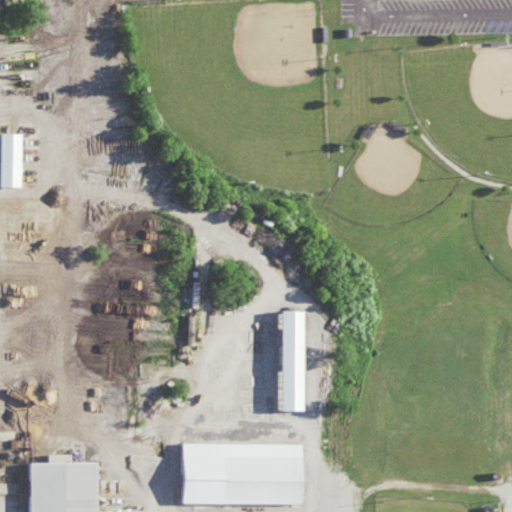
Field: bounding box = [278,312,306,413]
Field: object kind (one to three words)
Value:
shed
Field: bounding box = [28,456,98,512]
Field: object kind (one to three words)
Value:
shed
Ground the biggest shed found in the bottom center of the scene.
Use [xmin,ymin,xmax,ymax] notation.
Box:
[182,444,304,508]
